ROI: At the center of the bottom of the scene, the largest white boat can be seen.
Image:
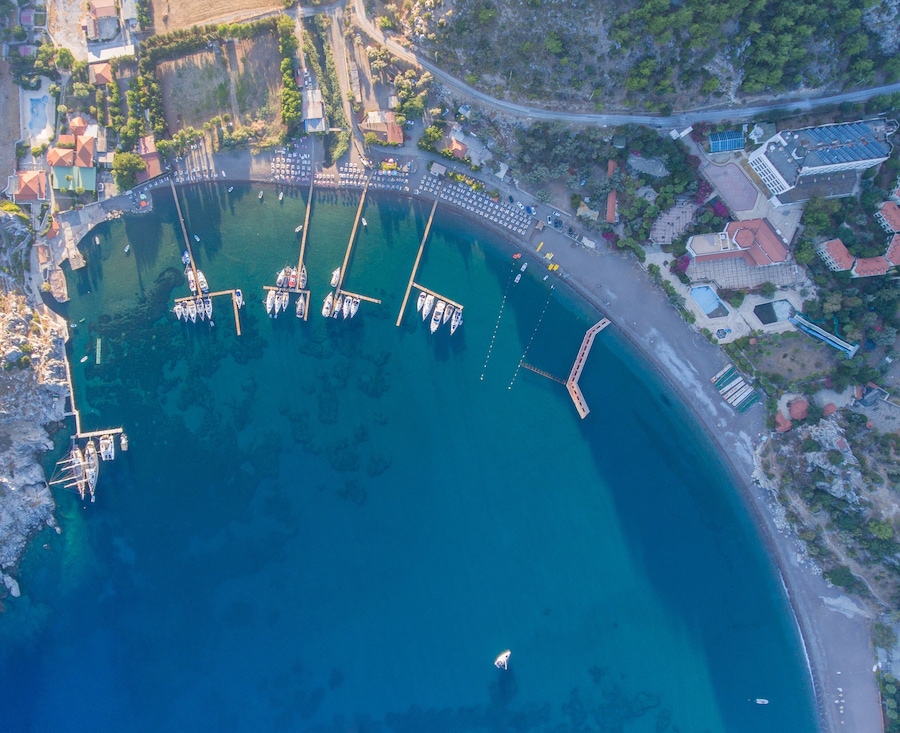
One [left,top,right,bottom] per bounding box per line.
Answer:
[495,650,510,668]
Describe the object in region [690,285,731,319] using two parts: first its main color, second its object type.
blue swimming pool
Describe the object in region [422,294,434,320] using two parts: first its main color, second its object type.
white boat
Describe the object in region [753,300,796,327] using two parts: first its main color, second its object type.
blue swimming pool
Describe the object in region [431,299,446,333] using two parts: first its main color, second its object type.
white boat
